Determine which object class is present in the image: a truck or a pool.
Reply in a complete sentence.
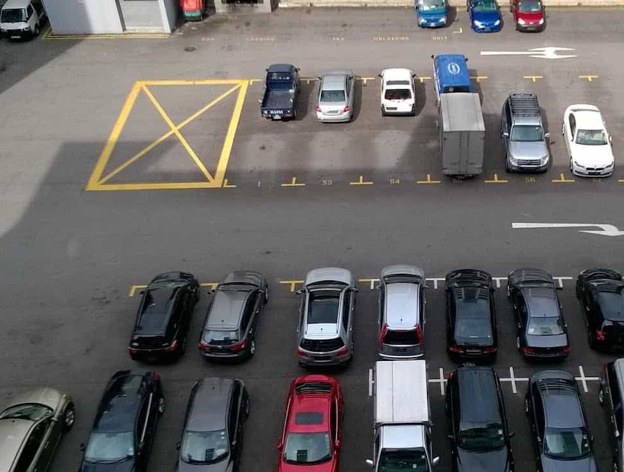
Visible in the photo is a truck.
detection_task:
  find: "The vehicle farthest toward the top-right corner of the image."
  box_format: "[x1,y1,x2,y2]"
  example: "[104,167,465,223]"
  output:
[510,0,548,32]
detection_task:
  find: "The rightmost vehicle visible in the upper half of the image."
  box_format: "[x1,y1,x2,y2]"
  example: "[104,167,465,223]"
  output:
[563,106,618,178]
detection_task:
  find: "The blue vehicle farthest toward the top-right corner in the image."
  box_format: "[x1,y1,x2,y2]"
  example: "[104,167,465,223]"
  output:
[469,0,505,32]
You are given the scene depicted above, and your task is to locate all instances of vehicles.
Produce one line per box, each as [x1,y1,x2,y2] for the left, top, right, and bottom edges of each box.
[194,270,269,364]
[271,375,346,472]
[415,0,450,27]
[525,370,606,472]
[71,371,166,472]
[599,362,624,472]
[314,67,357,122]
[378,70,417,116]
[508,267,573,360]
[430,56,487,176]
[373,268,433,363]
[578,267,624,354]
[445,368,519,472]
[501,88,551,170]
[469,0,505,32]
[510,0,548,32]
[439,268,500,362]
[0,390,78,472]
[165,376,249,472]
[563,106,618,178]
[296,267,357,365]
[366,363,441,472]
[257,63,302,119]
[0,0,50,39]
[123,270,201,363]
